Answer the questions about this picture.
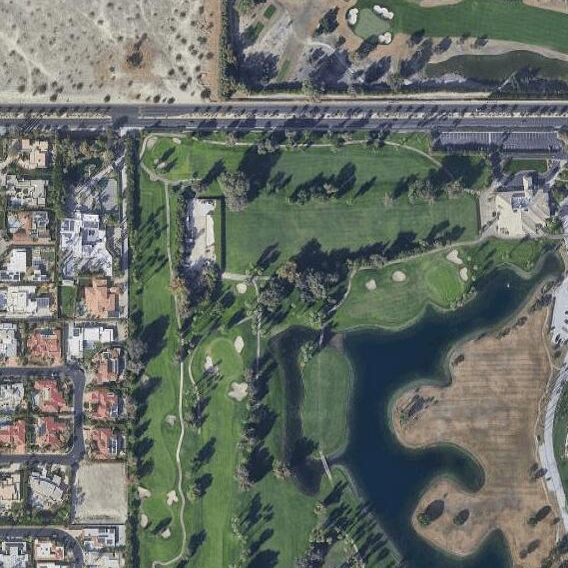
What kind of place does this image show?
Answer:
golf course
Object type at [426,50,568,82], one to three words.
pond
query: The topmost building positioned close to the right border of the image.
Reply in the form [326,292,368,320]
[497,176,551,235]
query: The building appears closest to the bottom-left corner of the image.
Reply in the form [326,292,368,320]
[0,542,27,568]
